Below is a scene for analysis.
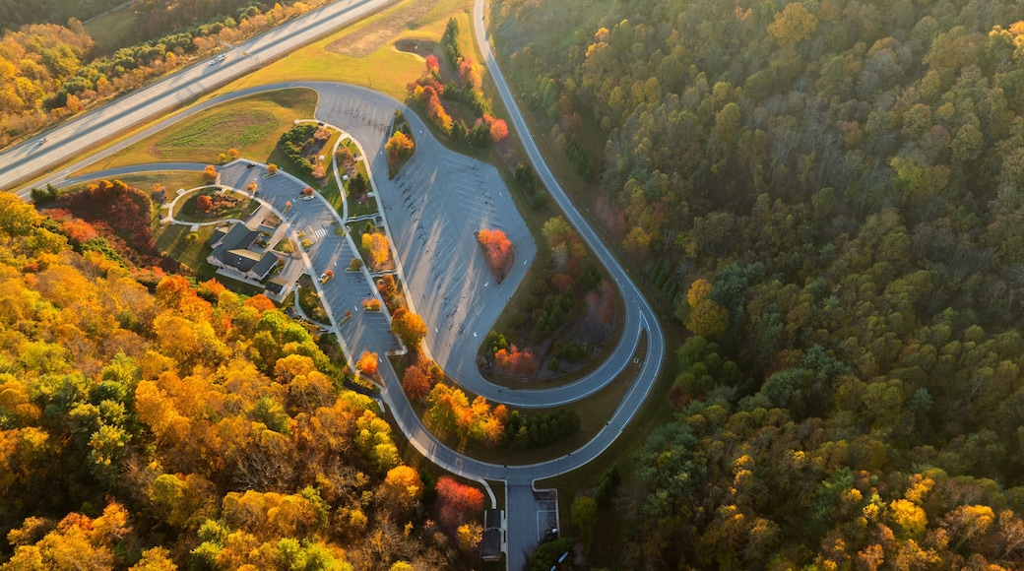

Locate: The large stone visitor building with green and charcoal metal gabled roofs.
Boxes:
[201,222,280,282]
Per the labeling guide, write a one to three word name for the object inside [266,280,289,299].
building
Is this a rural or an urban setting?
rural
